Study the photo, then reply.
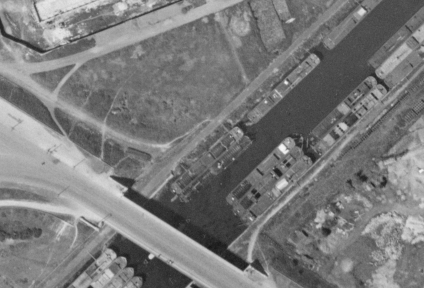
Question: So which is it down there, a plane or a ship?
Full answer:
Visible in the photo is a ship.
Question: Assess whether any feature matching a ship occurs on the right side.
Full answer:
Yes, the scene does show a ship on the right side.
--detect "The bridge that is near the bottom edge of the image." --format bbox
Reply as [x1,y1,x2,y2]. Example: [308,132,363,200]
[95,186,250,288]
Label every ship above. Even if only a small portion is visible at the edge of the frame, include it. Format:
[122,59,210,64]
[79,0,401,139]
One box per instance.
[241,154,314,225]
[224,135,297,205]
[169,127,243,195]
[64,246,119,288]
[231,144,305,217]
[124,274,146,288]
[374,24,424,78]
[315,82,390,154]
[85,255,130,288]
[308,74,378,140]
[320,0,379,50]
[106,266,138,288]
[367,5,424,67]
[243,53,320,124]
